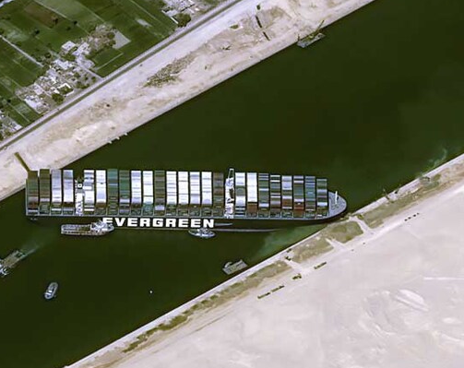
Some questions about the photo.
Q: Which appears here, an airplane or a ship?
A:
ship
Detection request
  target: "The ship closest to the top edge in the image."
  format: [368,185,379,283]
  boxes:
[298,31,326,48]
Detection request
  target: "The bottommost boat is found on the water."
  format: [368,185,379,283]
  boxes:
[44,281,59,298]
